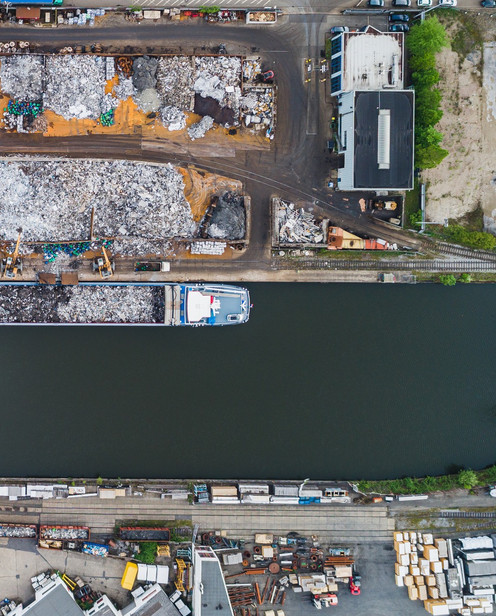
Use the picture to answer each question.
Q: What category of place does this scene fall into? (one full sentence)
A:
It's a port.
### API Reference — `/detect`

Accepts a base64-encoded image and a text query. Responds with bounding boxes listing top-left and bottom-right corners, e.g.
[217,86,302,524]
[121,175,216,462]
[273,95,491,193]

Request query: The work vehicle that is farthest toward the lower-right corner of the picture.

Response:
[347,569,362,600]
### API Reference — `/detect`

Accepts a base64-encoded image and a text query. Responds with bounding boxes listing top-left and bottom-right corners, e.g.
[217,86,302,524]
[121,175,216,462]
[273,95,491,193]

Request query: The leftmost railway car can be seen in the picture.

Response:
[0,523,39,538]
